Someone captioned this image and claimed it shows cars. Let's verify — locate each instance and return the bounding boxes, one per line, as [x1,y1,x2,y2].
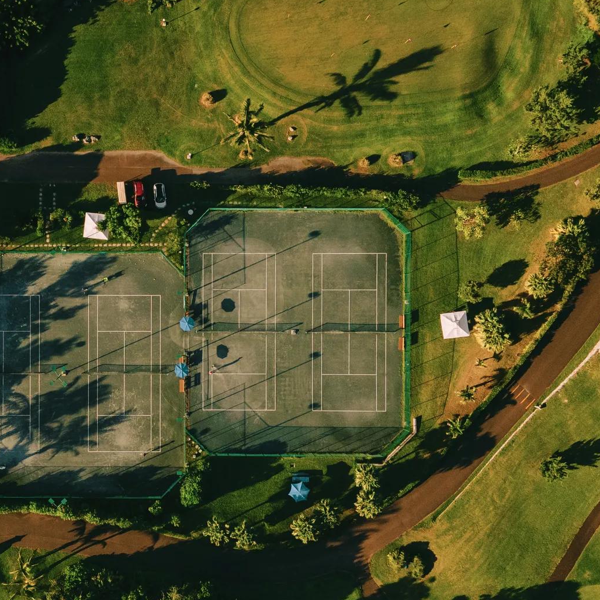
[132,180,146,208]
[154,183,168,208]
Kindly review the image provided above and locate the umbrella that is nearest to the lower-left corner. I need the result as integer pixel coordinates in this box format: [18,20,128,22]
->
[175,363,188,378]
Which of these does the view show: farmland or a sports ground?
sports ground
